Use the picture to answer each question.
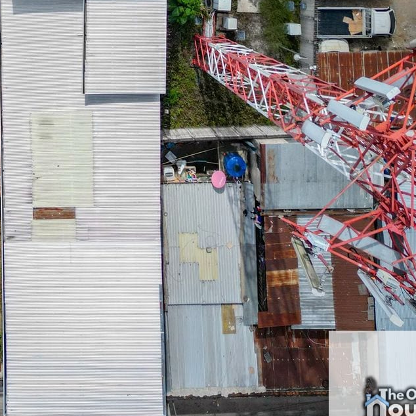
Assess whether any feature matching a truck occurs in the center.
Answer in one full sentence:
No, in the center there is no truck.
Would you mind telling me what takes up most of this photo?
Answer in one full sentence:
For the most part, this view shows buildings.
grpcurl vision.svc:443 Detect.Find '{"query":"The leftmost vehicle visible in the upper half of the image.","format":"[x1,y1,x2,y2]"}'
[319,37,348,53]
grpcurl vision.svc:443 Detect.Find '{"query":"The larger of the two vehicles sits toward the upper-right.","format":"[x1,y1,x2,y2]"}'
[319,4,394,39]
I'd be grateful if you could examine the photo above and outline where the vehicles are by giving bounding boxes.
[319,37,348,53]
[319,4,394,39]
